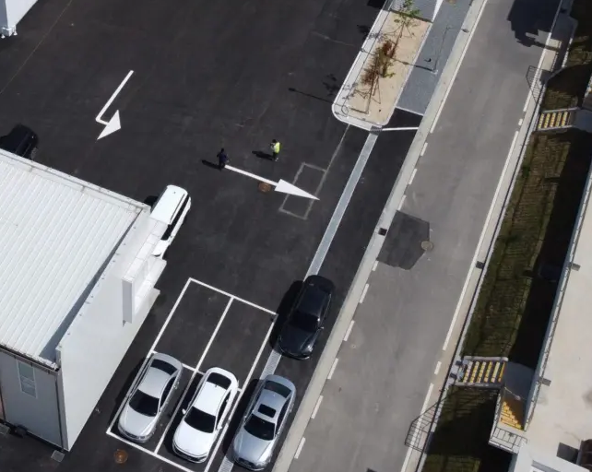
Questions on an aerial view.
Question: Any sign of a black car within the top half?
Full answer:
Yes, a black car can be seen within the top half.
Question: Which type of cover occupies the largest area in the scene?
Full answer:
The largest share of the image is taken up by paved ground.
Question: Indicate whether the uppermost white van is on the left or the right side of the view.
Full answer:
It is on the left.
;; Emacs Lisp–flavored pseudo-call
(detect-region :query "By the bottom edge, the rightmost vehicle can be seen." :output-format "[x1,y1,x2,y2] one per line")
[233,369,298,464]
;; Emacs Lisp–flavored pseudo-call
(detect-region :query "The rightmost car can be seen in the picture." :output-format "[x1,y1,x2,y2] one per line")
[276,276,335,359]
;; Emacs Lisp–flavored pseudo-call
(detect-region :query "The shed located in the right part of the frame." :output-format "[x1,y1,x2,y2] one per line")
[519,446,574,472]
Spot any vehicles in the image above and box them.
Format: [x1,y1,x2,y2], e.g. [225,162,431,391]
[233,369,298,464]
[276,276,335,359]
[114,353,183,447]
[155,183,195,259]
[2,125,46,159]
[174,366,240,461]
